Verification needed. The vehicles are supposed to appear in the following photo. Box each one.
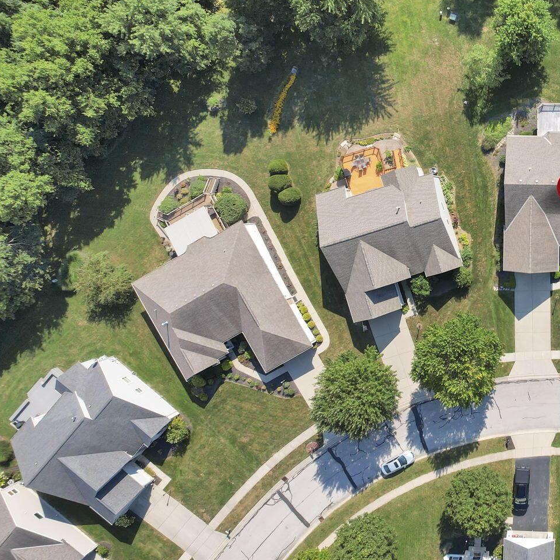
[512,467,530,512]
[379,450,415,478]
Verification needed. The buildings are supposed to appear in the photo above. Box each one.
[503,131,560,274]
[131,220,317,380]
[0,482,96,560]
[12,358,181,524]
[316,166,464,322]
[446,531,554,560]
